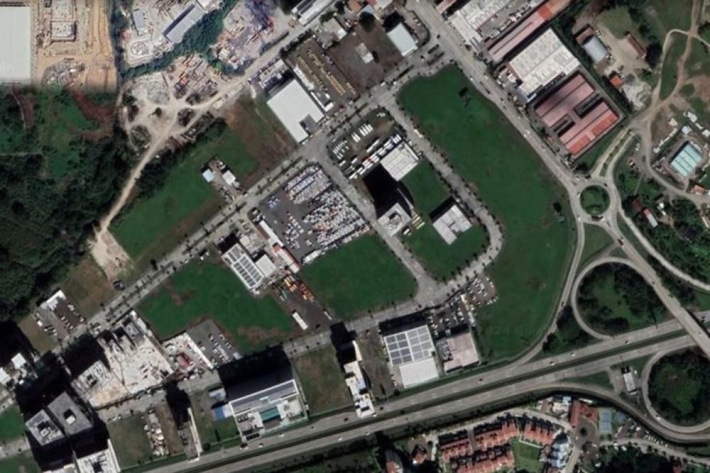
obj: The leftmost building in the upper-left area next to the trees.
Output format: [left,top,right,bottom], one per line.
[0,6,32,80]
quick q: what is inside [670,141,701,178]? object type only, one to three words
building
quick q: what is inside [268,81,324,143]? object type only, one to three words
building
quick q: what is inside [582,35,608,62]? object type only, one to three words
shed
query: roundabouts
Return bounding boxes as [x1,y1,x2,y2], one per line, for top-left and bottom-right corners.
[572,177,618,224]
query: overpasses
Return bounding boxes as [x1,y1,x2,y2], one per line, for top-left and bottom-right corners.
[608,225,710,364]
